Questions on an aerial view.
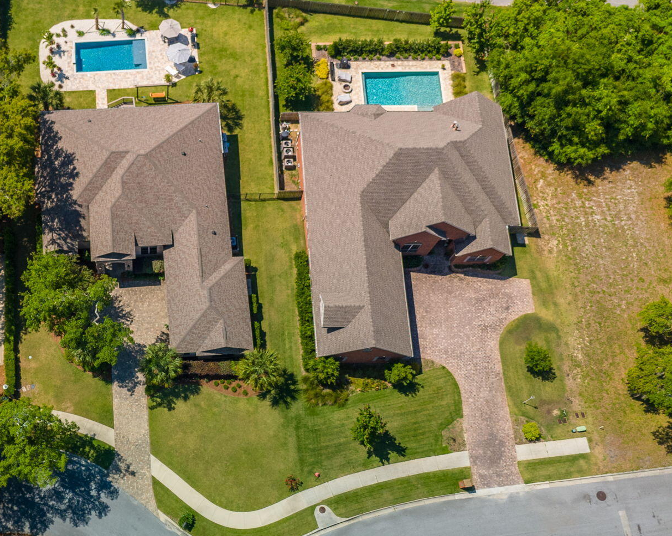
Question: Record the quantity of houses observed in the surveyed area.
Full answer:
There are 2 houses in the image.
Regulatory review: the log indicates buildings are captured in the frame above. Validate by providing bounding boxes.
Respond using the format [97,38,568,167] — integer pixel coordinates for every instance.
[296,91,521,365]
[39,102,254,358]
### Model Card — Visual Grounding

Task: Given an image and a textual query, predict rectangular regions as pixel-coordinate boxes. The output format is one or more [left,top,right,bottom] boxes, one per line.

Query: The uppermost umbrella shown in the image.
[158,18,183,44]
